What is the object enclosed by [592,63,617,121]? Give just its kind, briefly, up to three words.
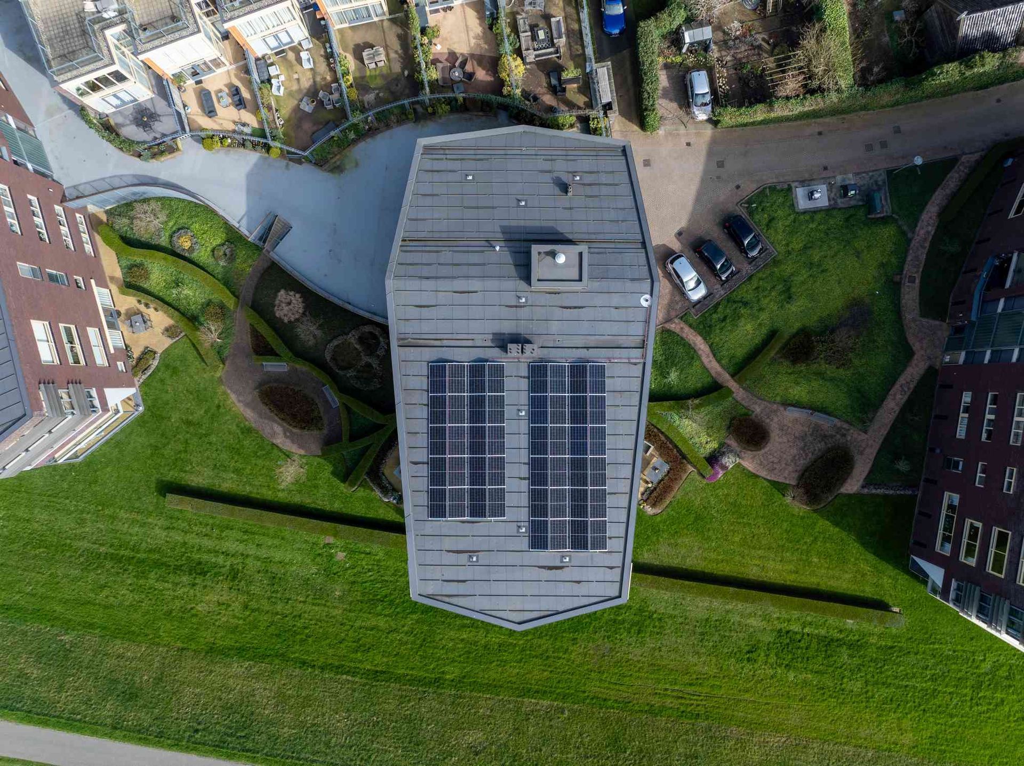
shed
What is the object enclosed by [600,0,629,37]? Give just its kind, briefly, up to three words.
car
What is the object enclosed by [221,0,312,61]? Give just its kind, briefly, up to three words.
house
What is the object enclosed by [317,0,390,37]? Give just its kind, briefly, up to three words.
house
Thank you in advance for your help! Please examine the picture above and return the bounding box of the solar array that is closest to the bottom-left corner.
[428,363,506,520]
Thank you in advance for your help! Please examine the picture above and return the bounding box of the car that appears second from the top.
[683,69,714,123]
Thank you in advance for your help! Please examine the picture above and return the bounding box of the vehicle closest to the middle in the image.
[663,248,707,306]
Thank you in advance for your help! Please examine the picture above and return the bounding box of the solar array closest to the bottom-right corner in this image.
[530,363,608,551]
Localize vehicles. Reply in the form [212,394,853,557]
[600,0,629,37]
[683,69,714,123]
[663,248,707,306]
[720,209,763,264]
[692,233,735,287]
